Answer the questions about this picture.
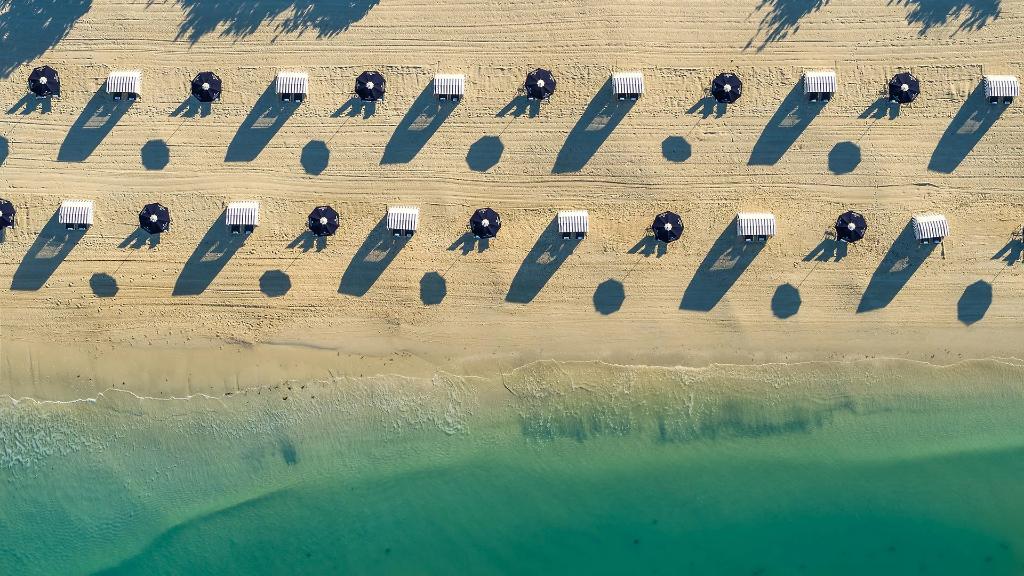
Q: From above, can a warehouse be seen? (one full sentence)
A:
No, I can see no warehouse in this picture.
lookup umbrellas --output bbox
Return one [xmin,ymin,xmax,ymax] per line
[192,72,221,102]
[309,206,339,236]
[0,198,17,229]
[139,202,170,233]
[712,73,742,103]
[28,65,60,96]
[356,72,385,101]
[835,211,867,243]
[470,208,501,239]
[889,73,919,103]
[652,212,684,243]
[525,69,556,100]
